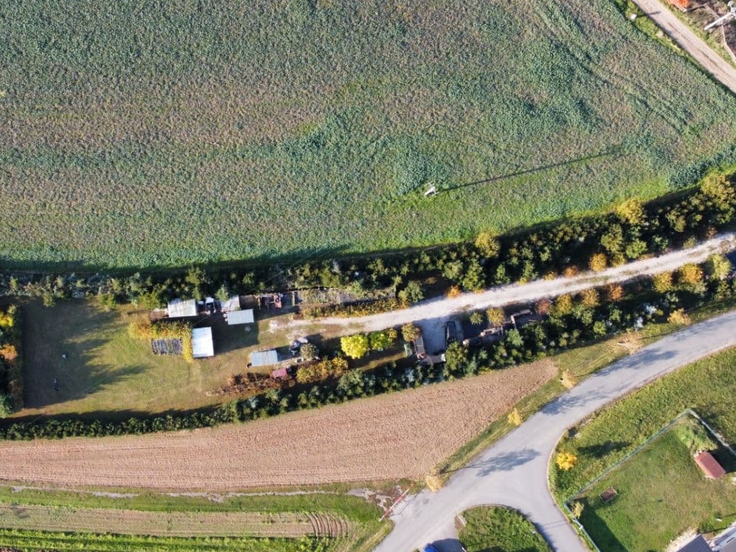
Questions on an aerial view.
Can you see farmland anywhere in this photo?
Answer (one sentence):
Yes, there is farmland in the image.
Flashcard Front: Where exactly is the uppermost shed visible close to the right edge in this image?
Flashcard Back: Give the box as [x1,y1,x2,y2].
[690,451,719,481]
